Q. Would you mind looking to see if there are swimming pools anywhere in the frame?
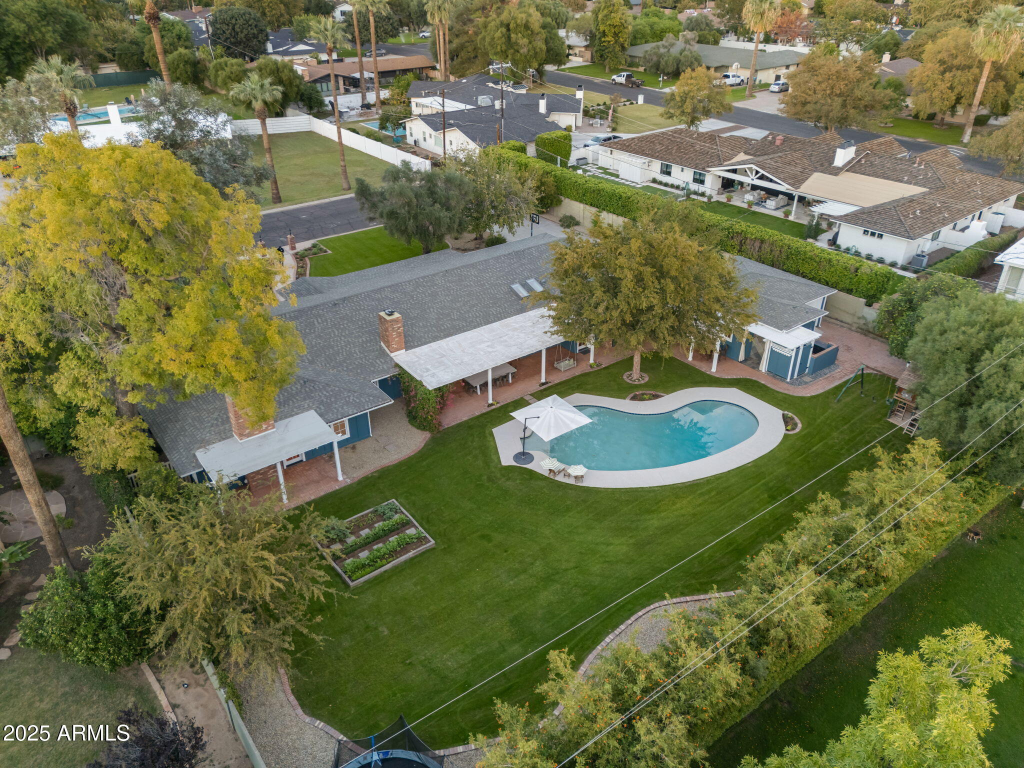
Yes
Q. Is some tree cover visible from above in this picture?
Yes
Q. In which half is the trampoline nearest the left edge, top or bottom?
bottom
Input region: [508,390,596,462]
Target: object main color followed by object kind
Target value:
white umbrella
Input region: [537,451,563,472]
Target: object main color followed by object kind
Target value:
white umbrella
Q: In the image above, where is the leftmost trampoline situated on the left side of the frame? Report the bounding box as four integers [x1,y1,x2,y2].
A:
[344,714,453,768]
